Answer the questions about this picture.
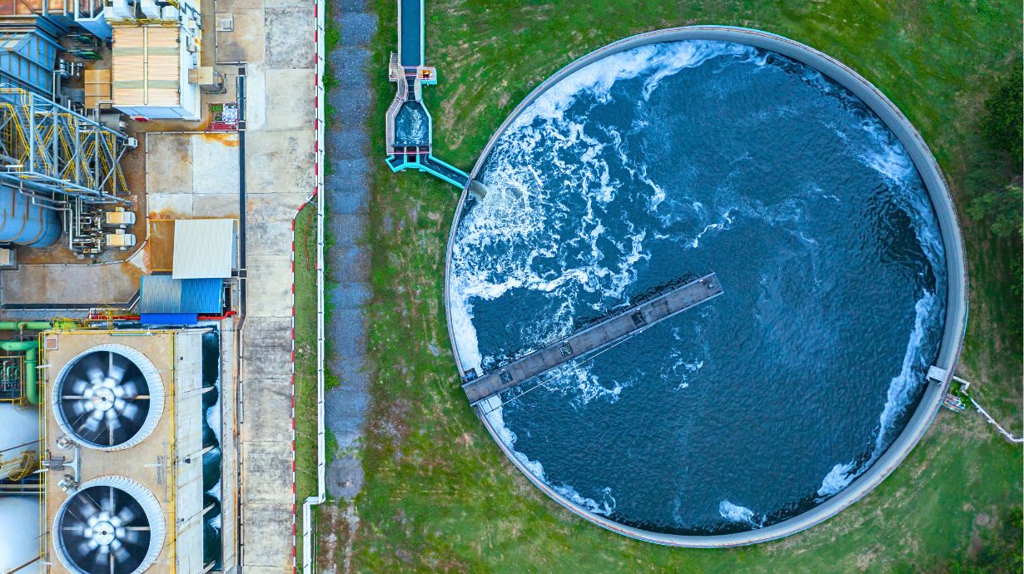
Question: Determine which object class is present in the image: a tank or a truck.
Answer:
tank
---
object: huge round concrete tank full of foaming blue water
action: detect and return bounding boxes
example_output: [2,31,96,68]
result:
[444,25,968,549]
